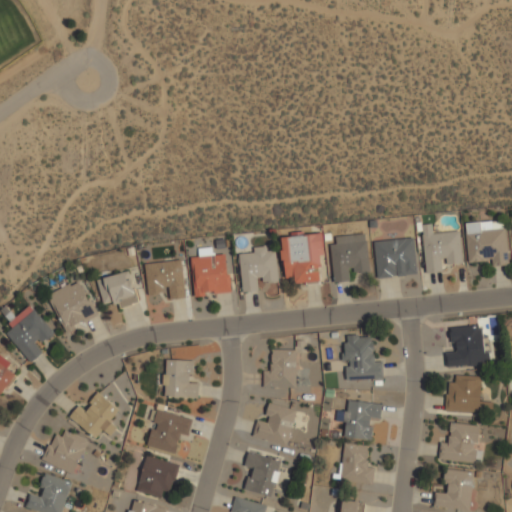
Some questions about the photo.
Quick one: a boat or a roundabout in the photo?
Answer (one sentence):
I can see a roundabout in this picture.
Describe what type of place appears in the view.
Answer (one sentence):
This looks like a residential area.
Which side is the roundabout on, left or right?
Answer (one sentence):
It is on the left.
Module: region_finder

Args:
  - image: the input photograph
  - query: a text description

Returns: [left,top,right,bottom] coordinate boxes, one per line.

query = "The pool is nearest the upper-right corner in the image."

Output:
[440,216,460,230]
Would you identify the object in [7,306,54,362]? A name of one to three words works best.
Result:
house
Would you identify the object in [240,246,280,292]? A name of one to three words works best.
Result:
house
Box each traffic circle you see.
[58,50,118,110]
